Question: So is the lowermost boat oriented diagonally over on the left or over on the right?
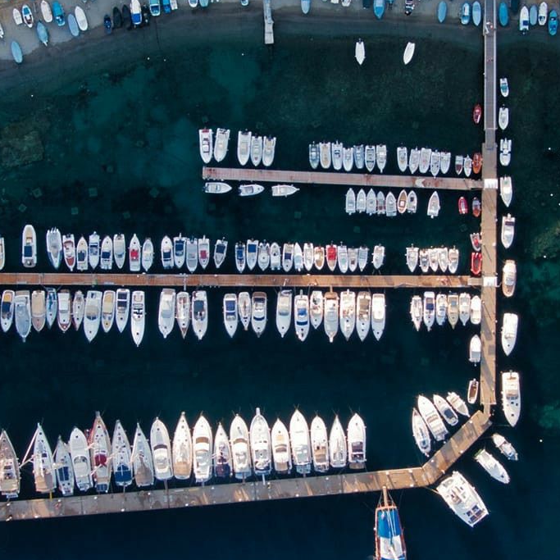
right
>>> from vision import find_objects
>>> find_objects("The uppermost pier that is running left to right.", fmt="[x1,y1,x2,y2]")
[203,167,482,189]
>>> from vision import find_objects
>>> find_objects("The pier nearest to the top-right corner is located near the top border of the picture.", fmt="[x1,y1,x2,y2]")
[482,0,495,149]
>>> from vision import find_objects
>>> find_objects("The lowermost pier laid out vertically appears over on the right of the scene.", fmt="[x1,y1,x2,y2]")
[479,146,497,407]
